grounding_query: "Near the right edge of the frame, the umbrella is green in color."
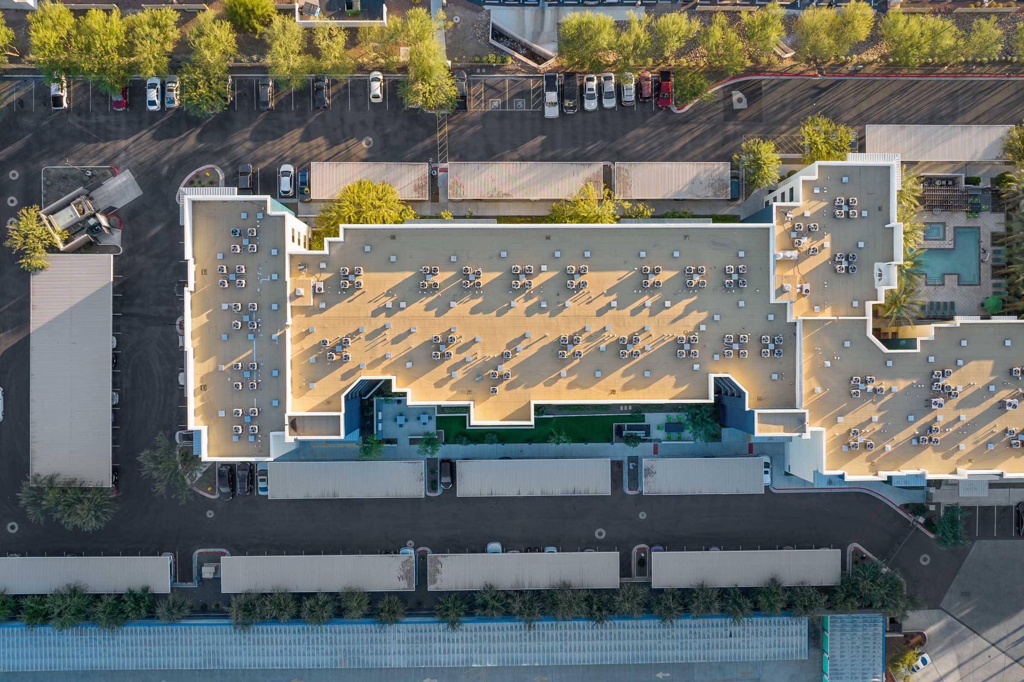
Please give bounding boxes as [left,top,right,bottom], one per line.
[982,296,1001,313]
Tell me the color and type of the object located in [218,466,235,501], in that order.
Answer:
black car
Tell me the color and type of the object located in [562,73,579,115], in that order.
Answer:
black vehicle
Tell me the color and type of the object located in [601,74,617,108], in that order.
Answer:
gray car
